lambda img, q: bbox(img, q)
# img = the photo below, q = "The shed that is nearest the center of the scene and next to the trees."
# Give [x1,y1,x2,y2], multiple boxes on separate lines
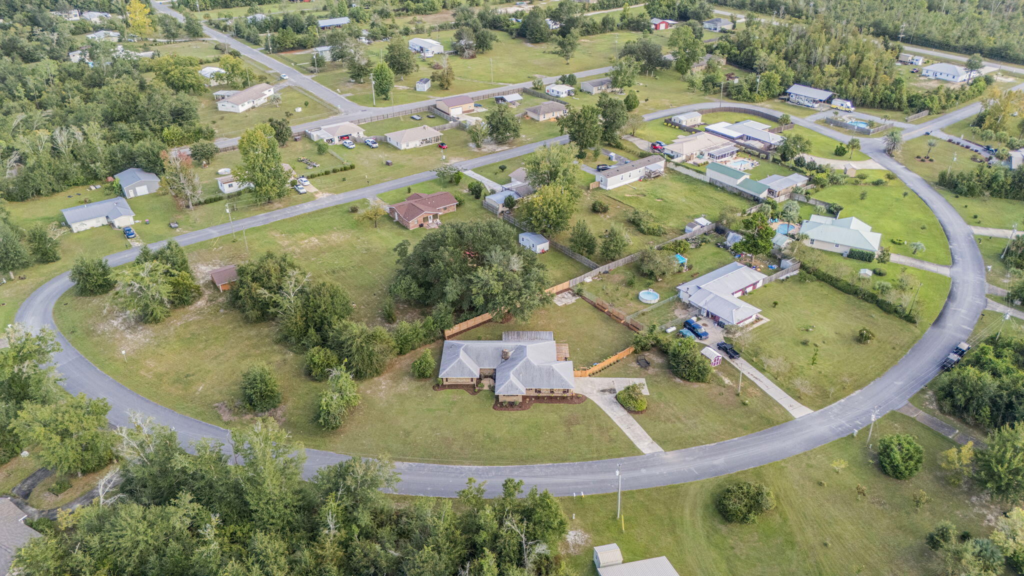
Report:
[523,229,549,253]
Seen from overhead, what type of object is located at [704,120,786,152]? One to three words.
house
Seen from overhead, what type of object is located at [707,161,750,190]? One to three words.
building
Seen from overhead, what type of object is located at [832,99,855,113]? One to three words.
vehicle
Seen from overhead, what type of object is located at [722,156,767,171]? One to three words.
swimming pool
